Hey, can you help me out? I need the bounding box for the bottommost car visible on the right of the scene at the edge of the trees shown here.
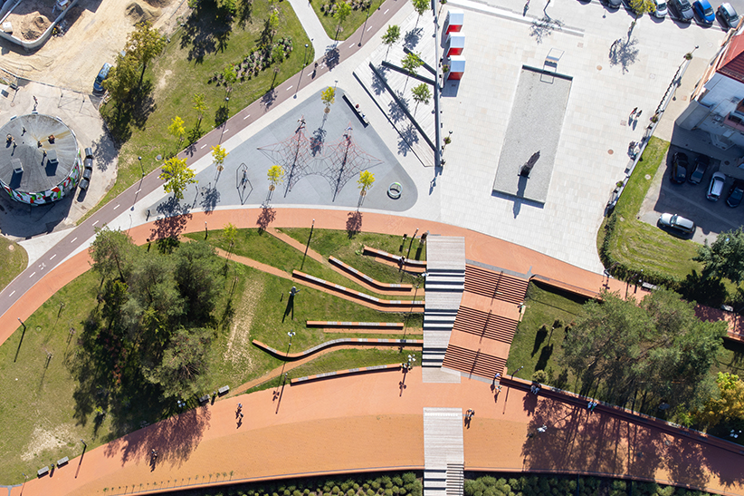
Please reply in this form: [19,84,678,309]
[654,209,700,236]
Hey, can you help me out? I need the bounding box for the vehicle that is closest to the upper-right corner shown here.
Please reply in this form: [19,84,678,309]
[716,0,742,30]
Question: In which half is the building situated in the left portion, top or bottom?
top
